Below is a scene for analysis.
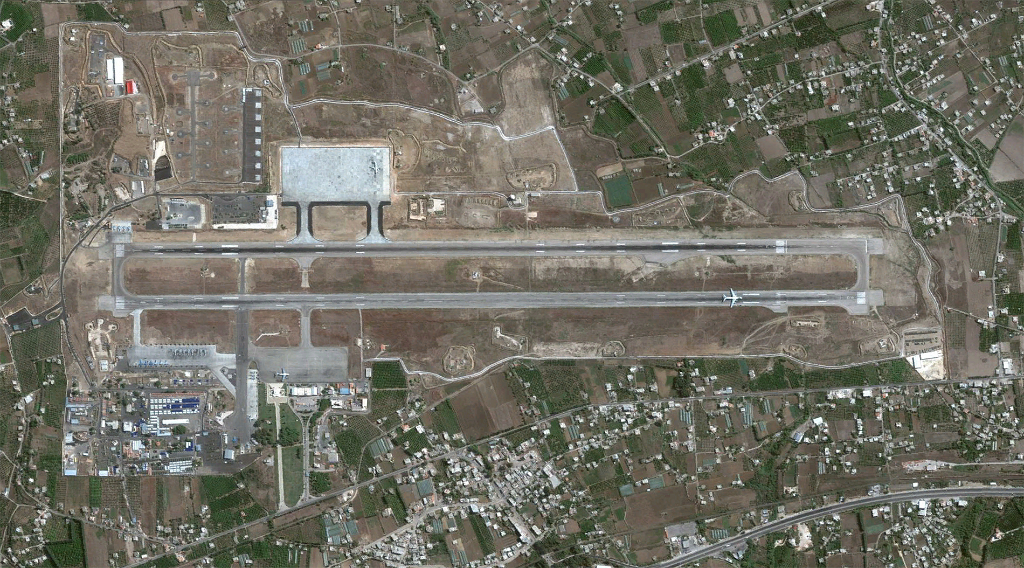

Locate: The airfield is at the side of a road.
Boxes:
[99,71,883,452]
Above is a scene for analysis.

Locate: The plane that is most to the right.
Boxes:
[722,288,742,308]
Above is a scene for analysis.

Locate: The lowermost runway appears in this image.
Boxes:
[114,291,869,310]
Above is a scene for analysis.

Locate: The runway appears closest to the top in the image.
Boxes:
[114,239,869,258]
